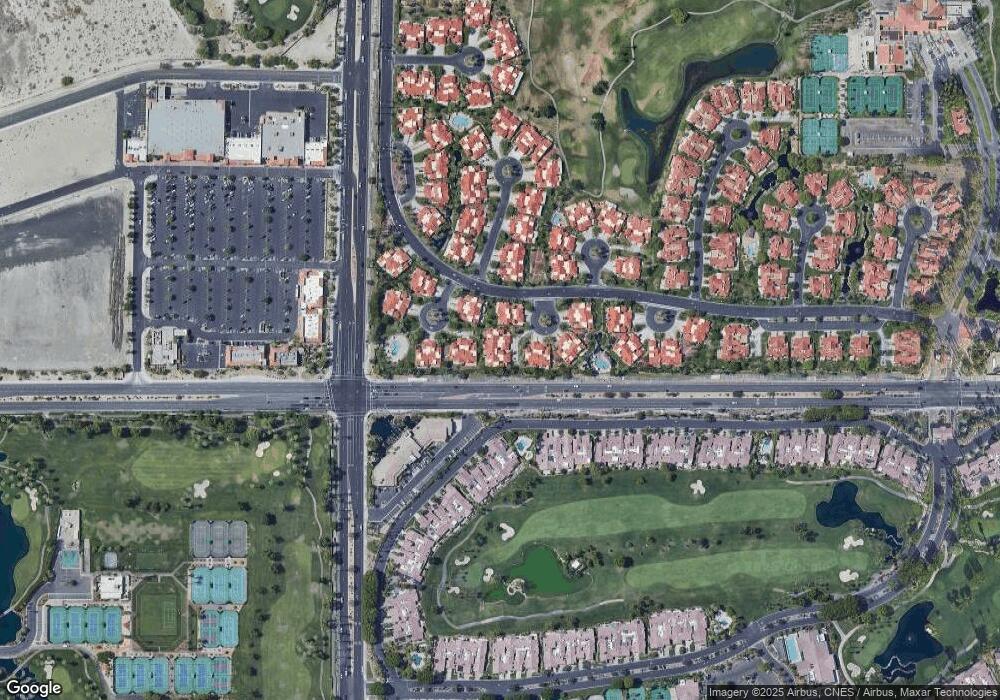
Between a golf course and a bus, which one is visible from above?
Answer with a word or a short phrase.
golf course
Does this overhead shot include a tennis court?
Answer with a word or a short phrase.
Yes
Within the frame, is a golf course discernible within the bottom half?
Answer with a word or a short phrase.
Yes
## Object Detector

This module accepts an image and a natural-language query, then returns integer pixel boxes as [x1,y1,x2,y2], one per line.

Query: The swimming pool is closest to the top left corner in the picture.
[449,111,473,131]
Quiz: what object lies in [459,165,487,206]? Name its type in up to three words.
house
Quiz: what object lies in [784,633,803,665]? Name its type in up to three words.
swimming pool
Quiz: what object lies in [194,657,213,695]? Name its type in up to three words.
tennis court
